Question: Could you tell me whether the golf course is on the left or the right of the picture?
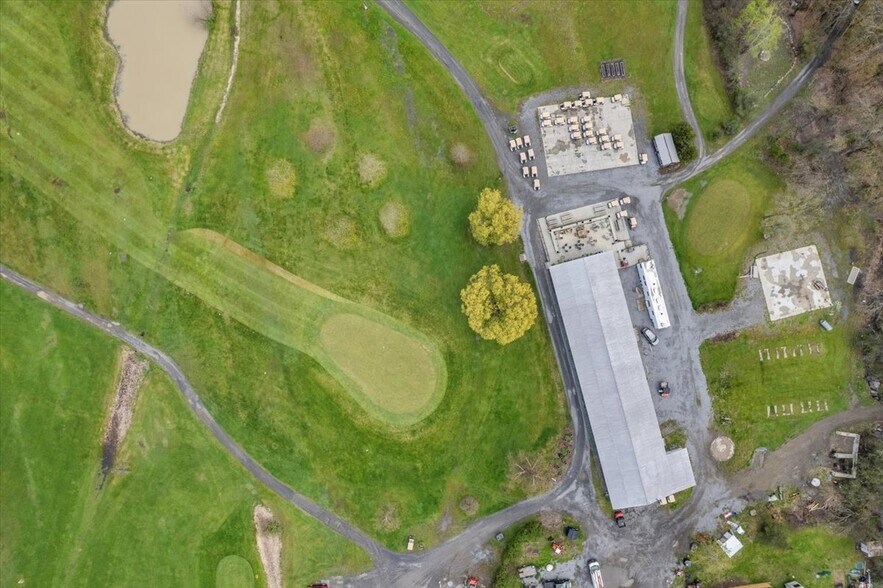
left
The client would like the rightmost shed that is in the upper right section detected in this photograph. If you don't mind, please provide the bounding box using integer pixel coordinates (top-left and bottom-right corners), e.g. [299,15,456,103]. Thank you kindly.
[652,133,679,167]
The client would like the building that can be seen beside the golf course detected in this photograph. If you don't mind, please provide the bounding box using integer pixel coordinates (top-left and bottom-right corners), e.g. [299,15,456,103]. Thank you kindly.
[548,250,696,509]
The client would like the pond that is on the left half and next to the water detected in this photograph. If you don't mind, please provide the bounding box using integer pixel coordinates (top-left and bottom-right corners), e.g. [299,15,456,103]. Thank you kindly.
[108,0,212,142]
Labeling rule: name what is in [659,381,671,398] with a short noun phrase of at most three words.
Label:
vehicle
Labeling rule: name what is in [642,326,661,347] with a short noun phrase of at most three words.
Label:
car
